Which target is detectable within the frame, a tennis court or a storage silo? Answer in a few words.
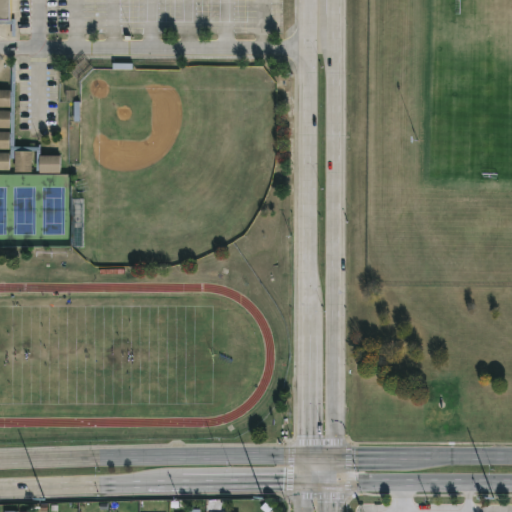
tennis court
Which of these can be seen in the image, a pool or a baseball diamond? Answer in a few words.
baseball diamond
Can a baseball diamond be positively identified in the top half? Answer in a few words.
Yes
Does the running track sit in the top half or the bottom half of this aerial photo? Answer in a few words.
bottom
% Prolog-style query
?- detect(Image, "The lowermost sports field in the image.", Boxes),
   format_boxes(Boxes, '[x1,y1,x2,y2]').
[0,306,214,404]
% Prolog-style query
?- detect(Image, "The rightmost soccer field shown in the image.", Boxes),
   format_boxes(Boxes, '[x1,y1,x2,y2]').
[432,0,512,184]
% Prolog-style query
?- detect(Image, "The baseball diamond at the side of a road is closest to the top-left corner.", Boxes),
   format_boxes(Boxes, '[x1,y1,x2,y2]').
[82,66,276,267]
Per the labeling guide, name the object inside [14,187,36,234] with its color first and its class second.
blue tennis court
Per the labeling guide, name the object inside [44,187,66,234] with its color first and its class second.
blue tennis court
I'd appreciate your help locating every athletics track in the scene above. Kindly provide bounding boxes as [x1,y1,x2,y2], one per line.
[0,282,276,428]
